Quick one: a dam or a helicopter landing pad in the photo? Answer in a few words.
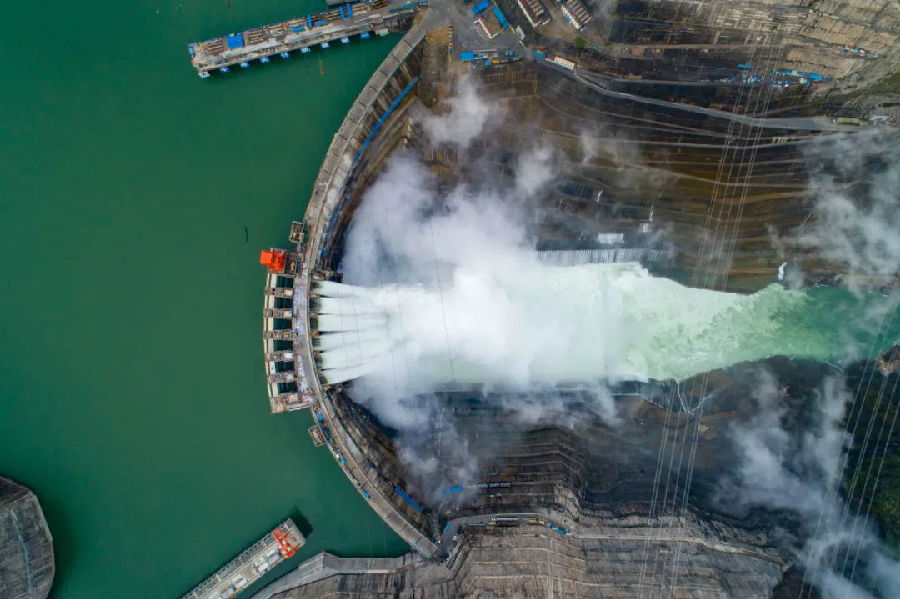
dam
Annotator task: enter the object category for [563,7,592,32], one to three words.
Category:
building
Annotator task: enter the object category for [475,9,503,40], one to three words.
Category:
building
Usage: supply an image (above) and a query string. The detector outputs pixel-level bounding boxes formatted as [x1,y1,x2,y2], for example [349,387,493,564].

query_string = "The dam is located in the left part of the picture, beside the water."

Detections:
[262,9,441,558]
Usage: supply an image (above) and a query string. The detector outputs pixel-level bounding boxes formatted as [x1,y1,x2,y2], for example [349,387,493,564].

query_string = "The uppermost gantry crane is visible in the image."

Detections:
[255,252,289,271]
